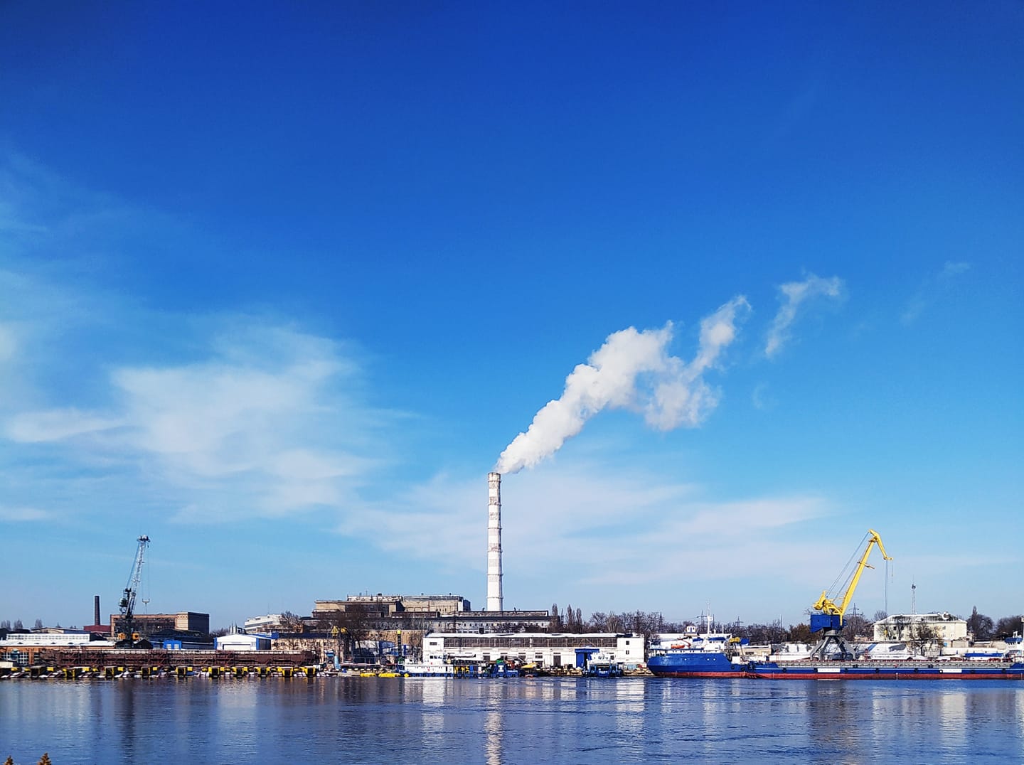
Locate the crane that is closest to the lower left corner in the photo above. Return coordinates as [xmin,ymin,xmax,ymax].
[118,537,154,640]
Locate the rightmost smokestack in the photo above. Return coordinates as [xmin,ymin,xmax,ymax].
[486,471,503,610]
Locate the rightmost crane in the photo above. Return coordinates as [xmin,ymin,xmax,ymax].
[809,529,893,661]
